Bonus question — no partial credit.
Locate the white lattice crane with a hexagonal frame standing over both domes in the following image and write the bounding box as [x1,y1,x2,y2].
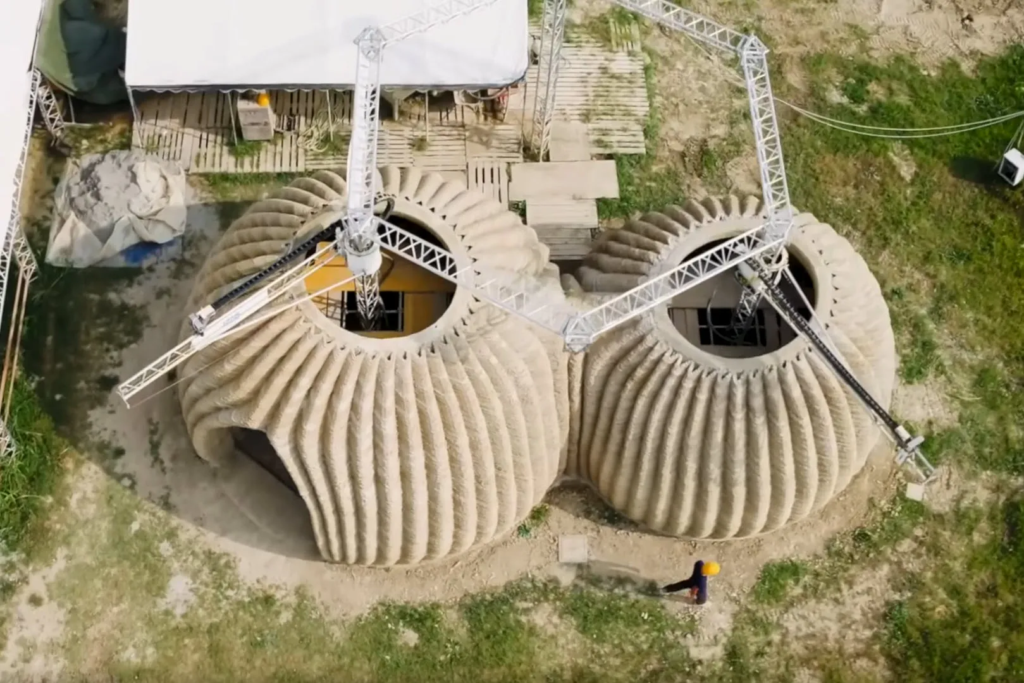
[339,0,795,361]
